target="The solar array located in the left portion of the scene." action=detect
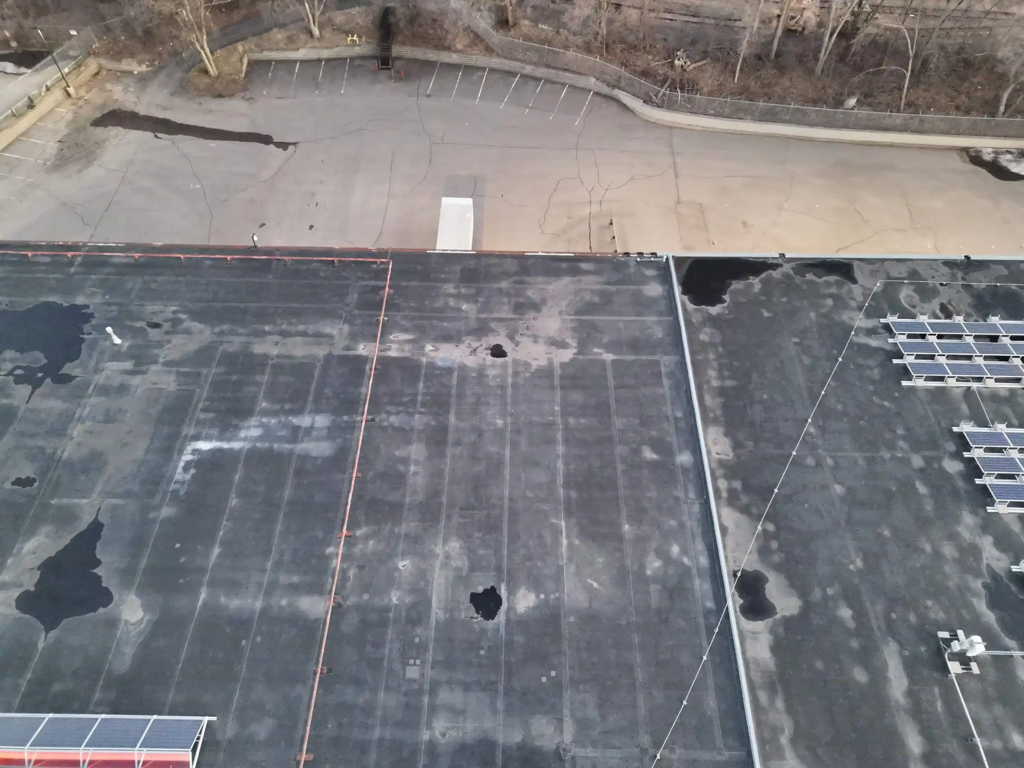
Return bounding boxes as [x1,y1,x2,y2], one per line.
[0,713,217,768]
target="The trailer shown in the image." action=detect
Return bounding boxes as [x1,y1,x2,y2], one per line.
[435,198,474,250]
